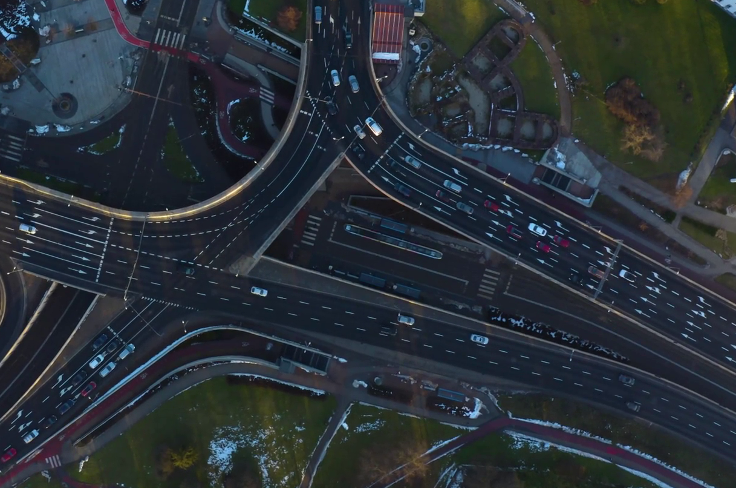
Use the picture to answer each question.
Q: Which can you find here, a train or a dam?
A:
train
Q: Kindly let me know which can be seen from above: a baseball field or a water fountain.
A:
water fountain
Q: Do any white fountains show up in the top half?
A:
No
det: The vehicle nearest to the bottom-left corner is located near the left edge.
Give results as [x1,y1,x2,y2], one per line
[0,448,17,463]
